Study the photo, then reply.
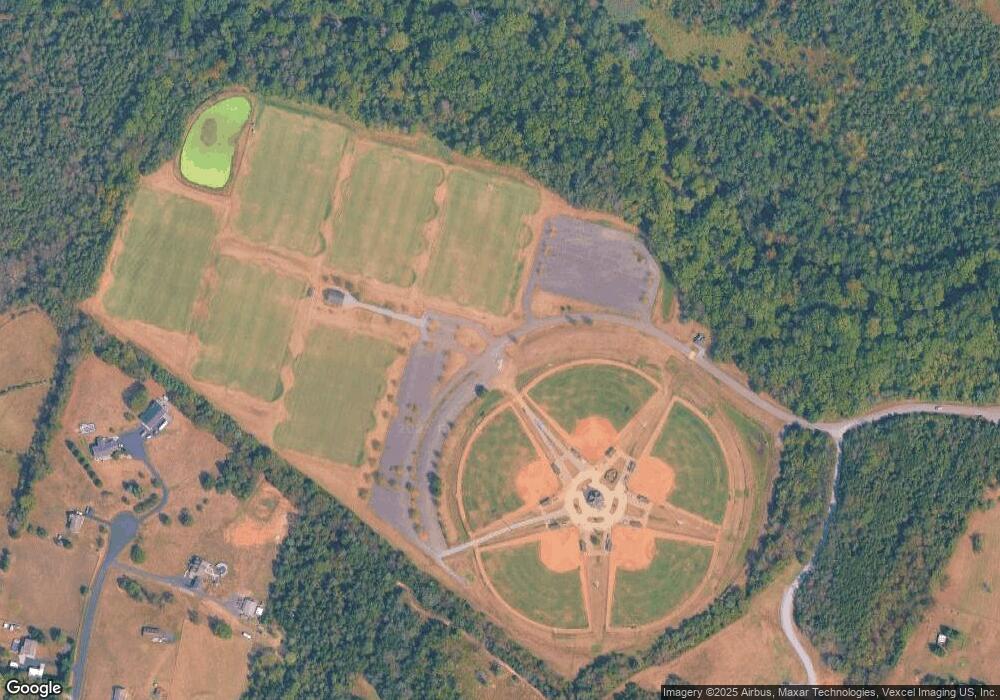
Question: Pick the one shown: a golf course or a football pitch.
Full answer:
The image shows a football pitch.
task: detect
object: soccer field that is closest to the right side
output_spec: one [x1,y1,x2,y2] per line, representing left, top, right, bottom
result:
[423,168,544,316]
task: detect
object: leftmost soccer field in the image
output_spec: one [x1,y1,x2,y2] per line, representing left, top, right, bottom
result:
[101,186,220,335]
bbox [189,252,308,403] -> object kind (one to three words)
soccer field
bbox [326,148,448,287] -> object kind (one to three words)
soccer field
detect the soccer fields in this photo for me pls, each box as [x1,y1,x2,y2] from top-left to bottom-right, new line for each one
[271,324,403,468]
[101,186,220,335]
[326,148,448,287]
[423,168,544,316]
[229,103,353,254]
[189,252,308,403]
